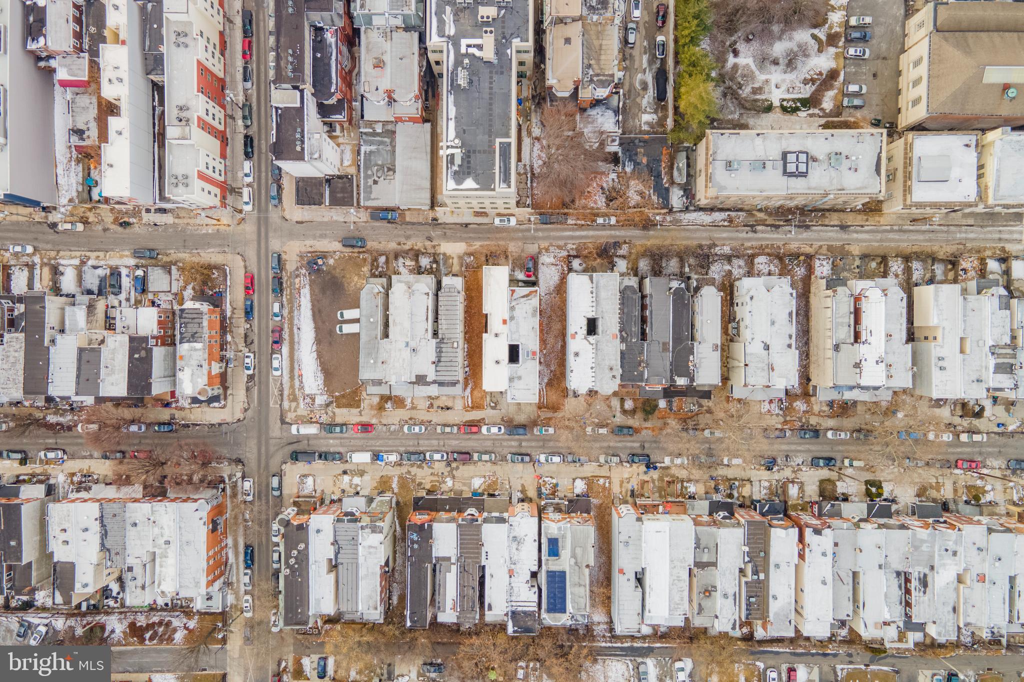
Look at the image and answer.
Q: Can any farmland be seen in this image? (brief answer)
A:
No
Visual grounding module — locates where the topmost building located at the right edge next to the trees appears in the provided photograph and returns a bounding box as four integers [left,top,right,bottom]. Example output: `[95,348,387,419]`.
[898,0,1024,129]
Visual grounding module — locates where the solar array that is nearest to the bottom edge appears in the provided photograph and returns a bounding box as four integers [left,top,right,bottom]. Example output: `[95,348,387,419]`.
[547,571,566,613]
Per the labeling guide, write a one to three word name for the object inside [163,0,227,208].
building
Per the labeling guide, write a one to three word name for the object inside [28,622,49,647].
car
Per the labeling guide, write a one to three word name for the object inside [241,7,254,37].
vehicle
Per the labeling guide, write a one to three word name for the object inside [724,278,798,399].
house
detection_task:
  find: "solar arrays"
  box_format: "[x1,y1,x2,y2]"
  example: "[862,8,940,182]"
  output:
[548,538,558,557]
[547,571,566,613]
